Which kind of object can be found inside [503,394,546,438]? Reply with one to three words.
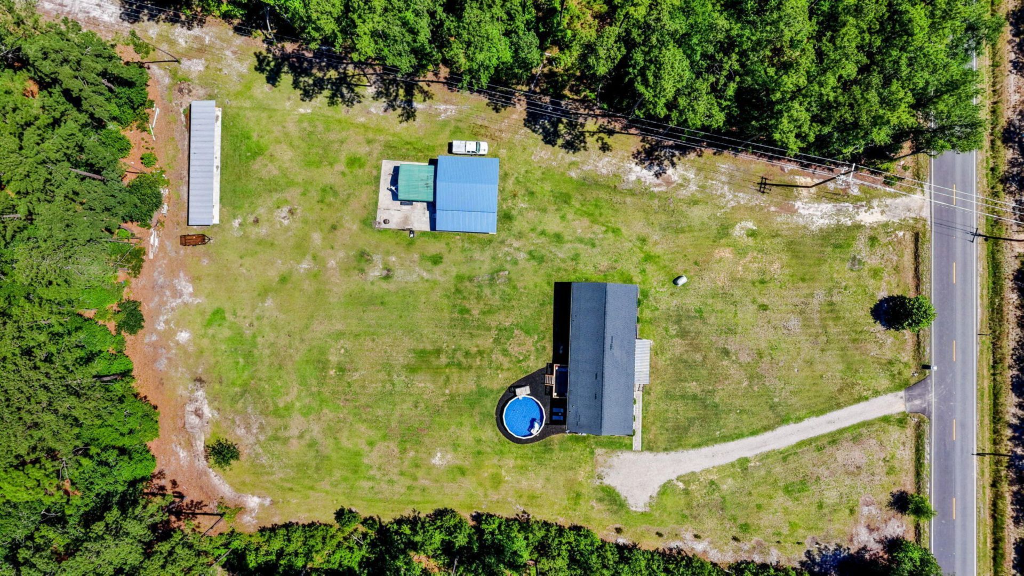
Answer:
swimming pool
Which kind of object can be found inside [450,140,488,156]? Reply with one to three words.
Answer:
vehicle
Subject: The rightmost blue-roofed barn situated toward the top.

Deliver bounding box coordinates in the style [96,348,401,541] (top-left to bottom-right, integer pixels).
[436,155,499,235]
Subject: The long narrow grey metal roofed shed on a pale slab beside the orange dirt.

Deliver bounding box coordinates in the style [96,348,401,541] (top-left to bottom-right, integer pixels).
[188,100,223,226]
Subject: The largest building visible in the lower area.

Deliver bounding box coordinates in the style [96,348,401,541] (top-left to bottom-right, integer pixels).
[566,282,639,436]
